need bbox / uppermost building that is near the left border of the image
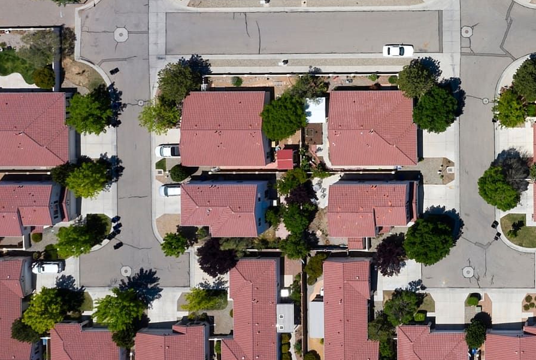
[0,92,76,167]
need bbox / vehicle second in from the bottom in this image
[157,184,180,198]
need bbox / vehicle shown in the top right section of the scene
[383,43,413,57]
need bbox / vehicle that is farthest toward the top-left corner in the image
[153,144,181,159]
